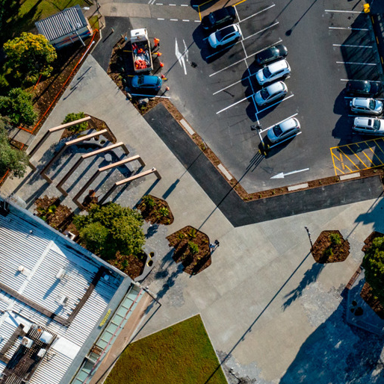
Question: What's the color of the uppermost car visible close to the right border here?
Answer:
black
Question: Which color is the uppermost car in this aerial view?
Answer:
black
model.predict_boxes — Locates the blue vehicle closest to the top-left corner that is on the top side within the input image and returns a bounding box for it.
[130,76,163,95]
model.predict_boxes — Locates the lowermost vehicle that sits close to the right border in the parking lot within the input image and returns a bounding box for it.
[351,116,384,134]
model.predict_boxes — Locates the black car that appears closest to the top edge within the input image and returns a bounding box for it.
[201,5,238,32]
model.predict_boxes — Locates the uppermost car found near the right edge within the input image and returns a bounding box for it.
[344,79,383,99]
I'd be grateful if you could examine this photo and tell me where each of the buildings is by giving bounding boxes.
[0,195,145,384]
[35,6,99,58]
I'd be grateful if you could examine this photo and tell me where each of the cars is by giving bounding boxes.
[344,79,383,99]
[252,43,292,68]
[351,116,384,134]
[130,76,163,95]
[347,96,384,116]
[207,23,244,50]
[253,57,292,85]
[264,118,302,144]
[201,5,238,32]
[252,82,289,109]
